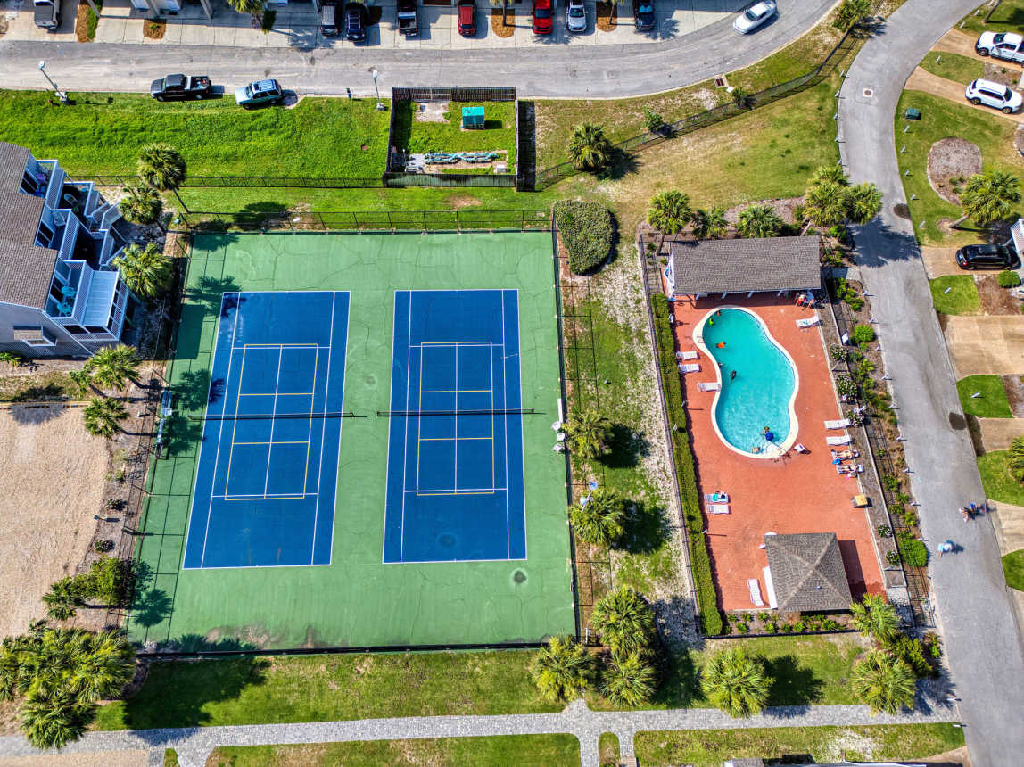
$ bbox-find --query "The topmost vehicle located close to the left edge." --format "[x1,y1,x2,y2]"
[34,0,68,28]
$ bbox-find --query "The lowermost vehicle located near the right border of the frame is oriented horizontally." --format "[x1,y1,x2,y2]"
[964,245,1024,272]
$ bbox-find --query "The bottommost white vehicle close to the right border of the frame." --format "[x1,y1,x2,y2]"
[974,83,1024,113]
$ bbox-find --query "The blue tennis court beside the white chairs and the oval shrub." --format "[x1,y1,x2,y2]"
[352,230,579,654]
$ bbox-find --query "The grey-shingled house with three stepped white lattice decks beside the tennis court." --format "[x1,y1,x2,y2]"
[0,140,144,355]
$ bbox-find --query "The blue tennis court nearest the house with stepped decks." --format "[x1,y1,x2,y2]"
[124,230,376,660]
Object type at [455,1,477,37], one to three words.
car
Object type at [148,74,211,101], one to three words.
truck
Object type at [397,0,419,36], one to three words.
truck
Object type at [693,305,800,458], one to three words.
swimming pool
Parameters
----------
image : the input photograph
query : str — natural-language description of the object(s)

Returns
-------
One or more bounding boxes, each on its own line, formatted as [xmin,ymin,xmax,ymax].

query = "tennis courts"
[352,230,579,654]
[124,230,376,660]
